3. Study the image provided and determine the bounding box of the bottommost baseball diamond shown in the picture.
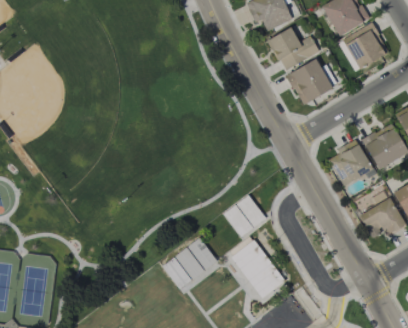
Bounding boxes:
[0,18,120,204]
